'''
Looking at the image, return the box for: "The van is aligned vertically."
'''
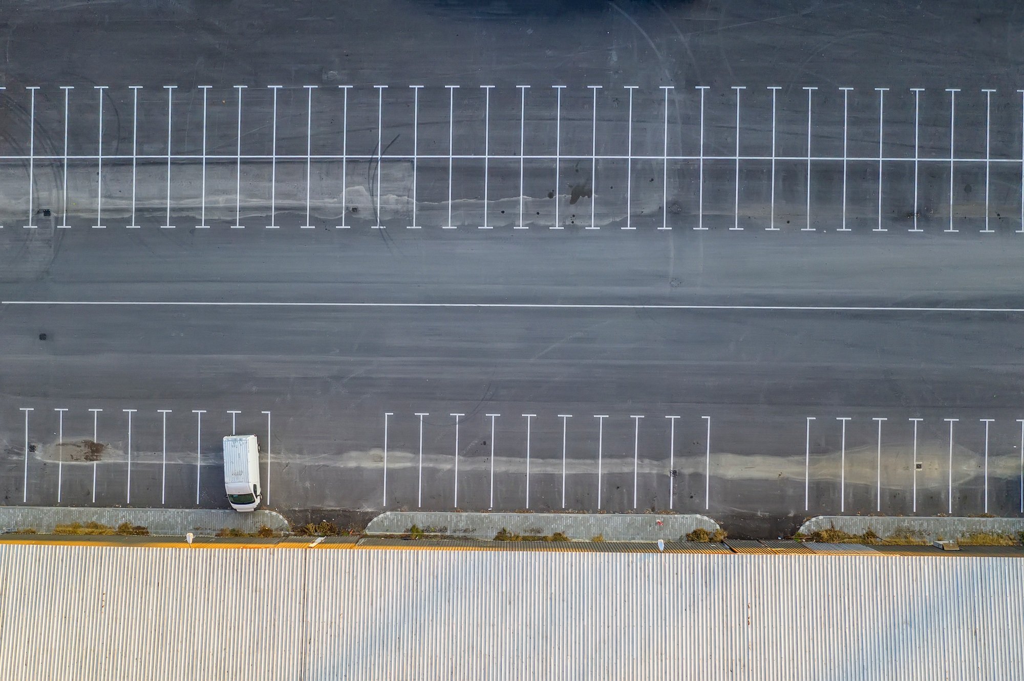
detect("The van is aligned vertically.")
[223,434,262,513]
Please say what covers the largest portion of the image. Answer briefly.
paved ground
